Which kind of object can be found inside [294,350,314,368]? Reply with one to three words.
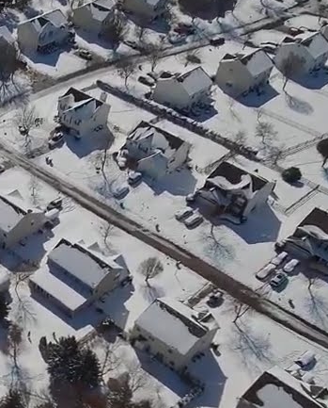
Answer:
car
